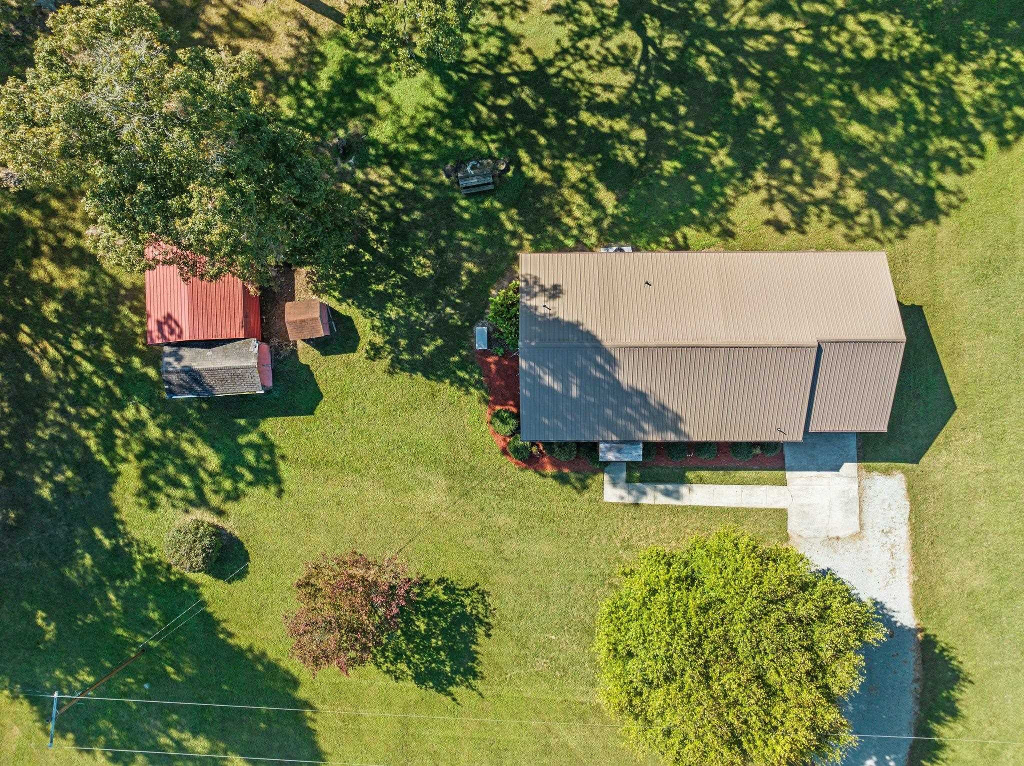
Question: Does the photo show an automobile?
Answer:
No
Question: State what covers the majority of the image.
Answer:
grass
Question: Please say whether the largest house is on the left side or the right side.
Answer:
right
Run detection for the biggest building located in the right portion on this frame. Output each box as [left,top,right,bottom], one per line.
[519,251,905,441]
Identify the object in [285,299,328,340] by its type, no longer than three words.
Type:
shed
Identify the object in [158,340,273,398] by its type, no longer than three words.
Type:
shed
